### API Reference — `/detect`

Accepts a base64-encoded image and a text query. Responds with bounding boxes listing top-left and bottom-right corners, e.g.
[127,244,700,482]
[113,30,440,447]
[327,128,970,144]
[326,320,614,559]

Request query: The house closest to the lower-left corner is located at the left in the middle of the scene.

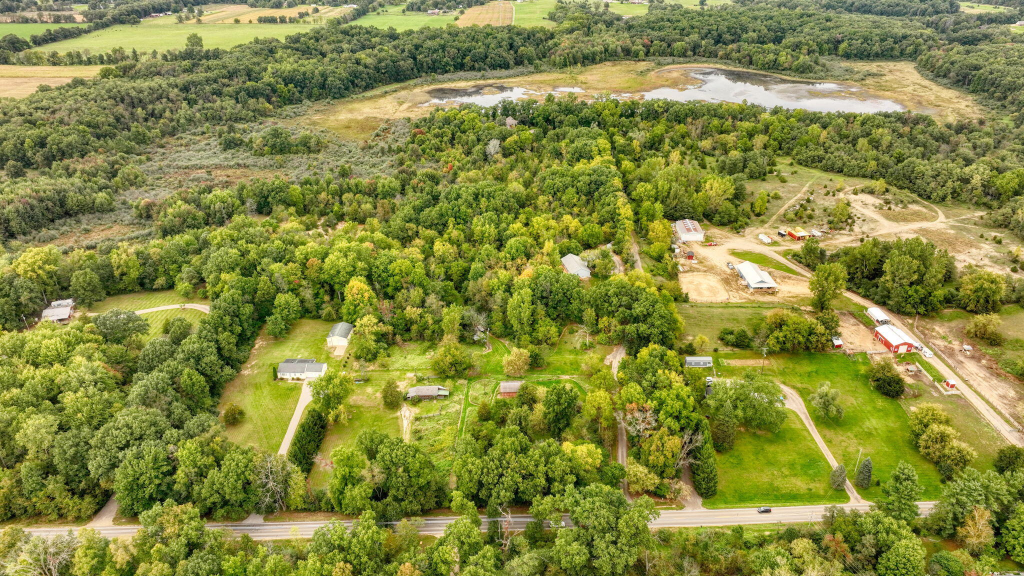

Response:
[40,305,79,328]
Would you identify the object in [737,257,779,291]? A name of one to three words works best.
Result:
house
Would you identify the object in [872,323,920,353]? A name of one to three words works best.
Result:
barn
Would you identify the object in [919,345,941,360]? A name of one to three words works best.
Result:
vehicle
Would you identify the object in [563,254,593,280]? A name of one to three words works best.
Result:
house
